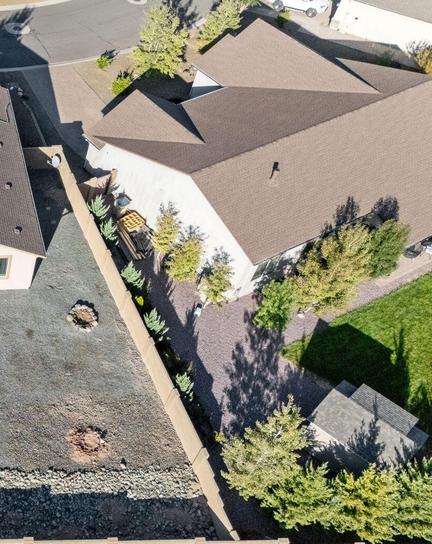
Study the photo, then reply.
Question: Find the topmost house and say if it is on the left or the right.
right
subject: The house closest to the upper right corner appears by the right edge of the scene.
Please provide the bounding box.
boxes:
[329,0,432,52]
